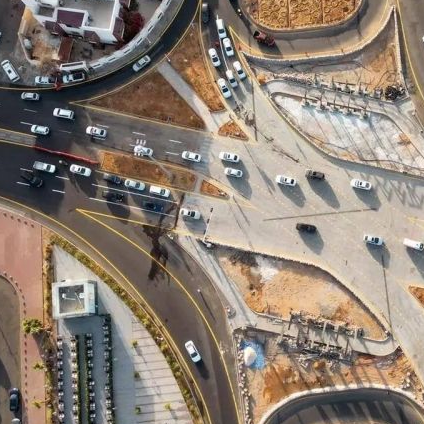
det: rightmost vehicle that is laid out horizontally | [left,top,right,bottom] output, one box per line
[402,237,424,251]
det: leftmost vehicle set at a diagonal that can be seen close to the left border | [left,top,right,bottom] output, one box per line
[0,60,18,81]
